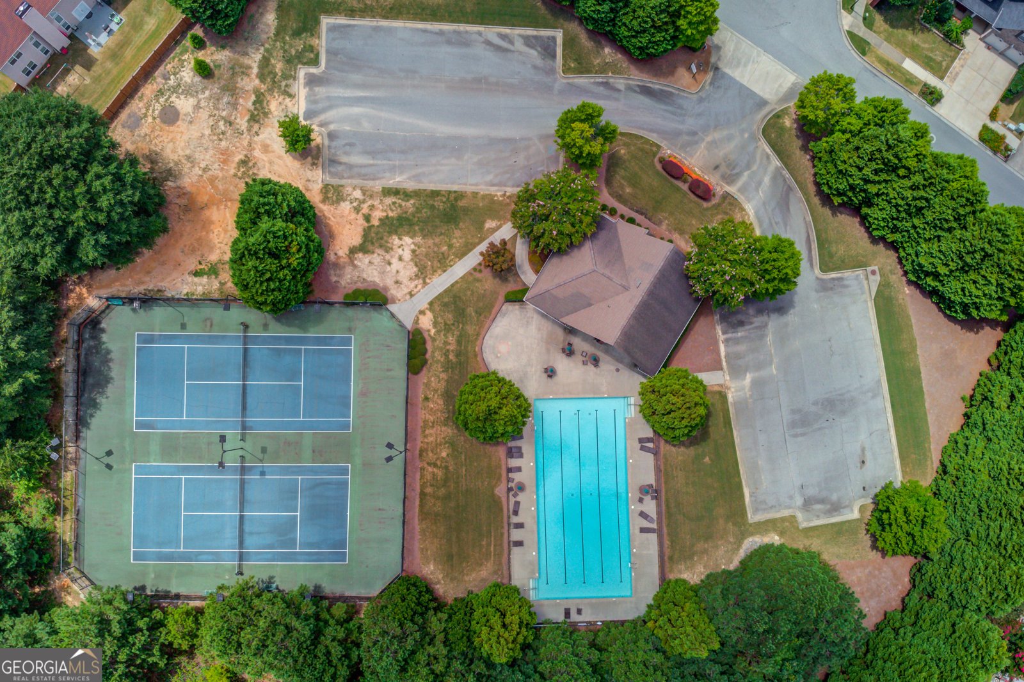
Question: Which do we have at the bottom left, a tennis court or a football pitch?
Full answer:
Looking at the bottom left, you will find a tennis court.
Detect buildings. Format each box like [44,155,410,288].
[524,205,711,378]
[930,0,1024,70]
[0,0,95,86]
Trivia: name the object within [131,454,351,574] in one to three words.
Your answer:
tennis court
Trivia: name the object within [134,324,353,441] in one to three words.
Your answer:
tennis court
